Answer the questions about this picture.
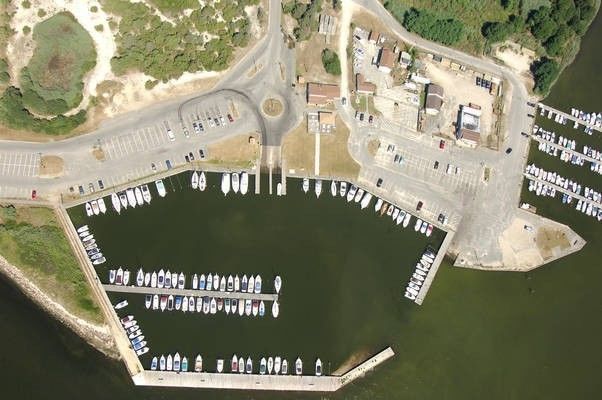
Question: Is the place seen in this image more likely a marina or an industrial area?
marina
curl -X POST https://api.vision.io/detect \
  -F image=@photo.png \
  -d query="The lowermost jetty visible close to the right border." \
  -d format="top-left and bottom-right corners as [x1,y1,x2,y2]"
[523,172,602,209]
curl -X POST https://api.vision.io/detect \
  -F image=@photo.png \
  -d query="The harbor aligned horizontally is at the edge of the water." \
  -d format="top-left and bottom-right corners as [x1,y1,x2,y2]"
[56,106,587,374]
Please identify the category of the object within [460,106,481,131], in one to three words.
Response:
building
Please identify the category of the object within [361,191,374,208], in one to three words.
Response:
boat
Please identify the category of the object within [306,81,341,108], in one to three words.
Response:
building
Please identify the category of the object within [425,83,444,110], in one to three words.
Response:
house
